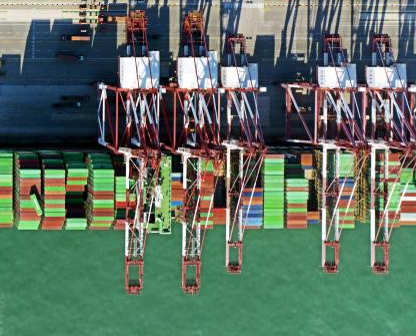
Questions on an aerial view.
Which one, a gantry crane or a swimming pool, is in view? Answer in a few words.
gantry crane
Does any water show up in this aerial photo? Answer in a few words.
Yes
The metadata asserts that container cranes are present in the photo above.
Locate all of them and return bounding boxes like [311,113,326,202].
[269,28,374,276]
[89,9,168,298]
[187,28,269,276]
[151,9,228,298]
[318,28,416,276]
